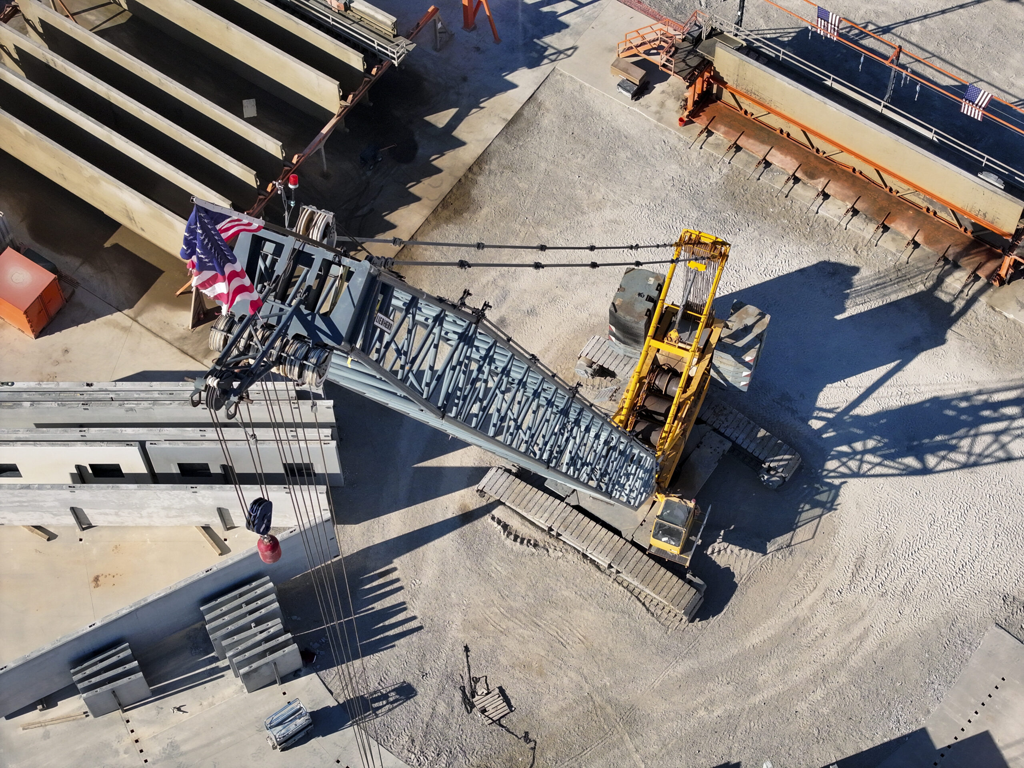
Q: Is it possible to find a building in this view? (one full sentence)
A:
No, there is no building in the image.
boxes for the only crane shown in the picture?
[183,174,809,768]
